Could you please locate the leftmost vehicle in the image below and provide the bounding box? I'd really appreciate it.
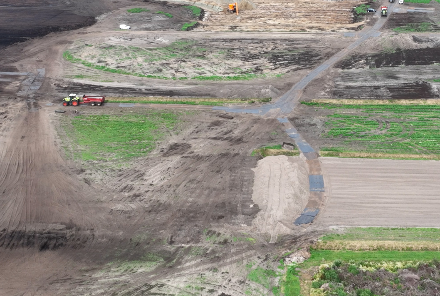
[62,94,81,106]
